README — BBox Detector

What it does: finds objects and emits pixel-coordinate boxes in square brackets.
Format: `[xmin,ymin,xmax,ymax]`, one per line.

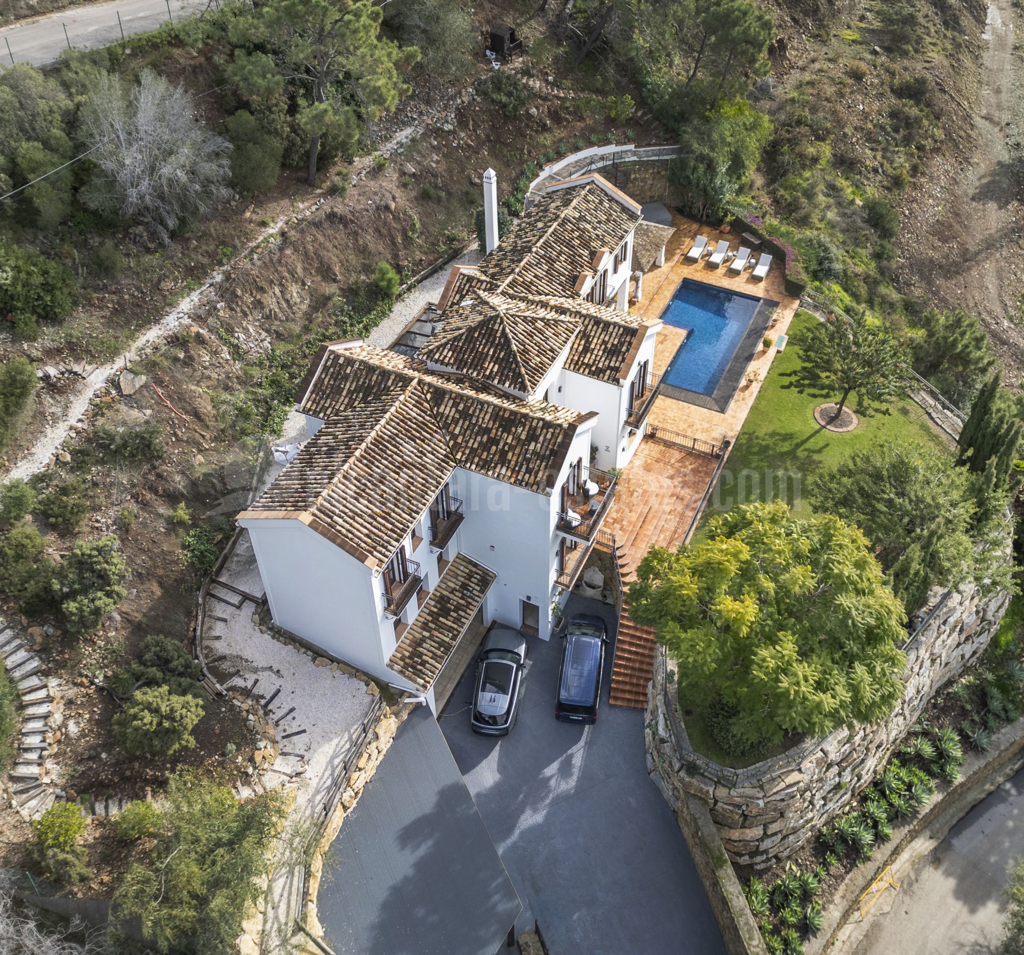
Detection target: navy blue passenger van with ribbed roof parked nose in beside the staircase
[553,618,612,728]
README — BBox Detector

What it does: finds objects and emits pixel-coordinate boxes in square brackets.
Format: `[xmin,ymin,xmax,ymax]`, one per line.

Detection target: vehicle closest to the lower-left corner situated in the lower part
[469,631,529,738]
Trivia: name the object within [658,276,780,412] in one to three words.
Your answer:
swimming pool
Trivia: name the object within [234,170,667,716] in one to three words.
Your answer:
house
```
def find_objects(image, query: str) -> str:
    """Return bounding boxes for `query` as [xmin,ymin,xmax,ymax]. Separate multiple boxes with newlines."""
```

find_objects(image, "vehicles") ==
[469,631,529,738]
[553,618,612,728]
